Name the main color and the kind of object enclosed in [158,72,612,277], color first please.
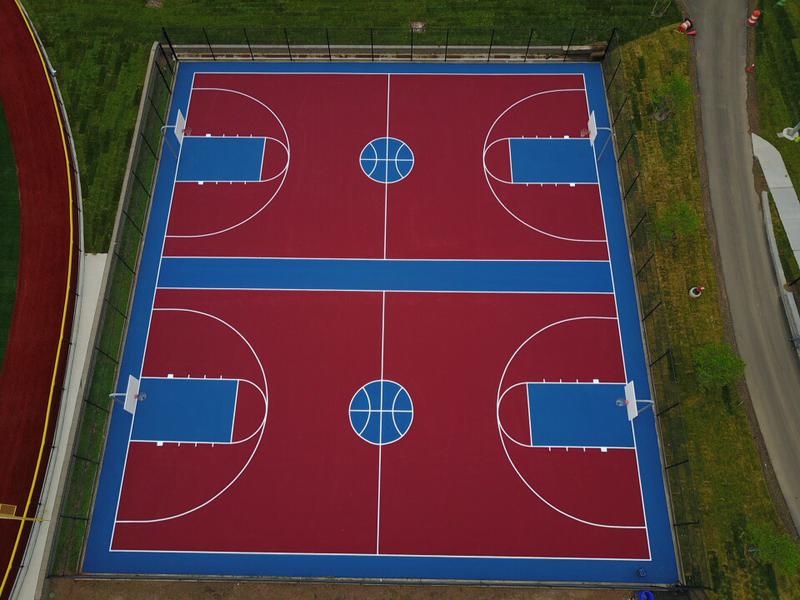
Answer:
red basketball court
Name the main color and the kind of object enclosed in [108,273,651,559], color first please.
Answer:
red basketball court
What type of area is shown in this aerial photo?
sports ground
